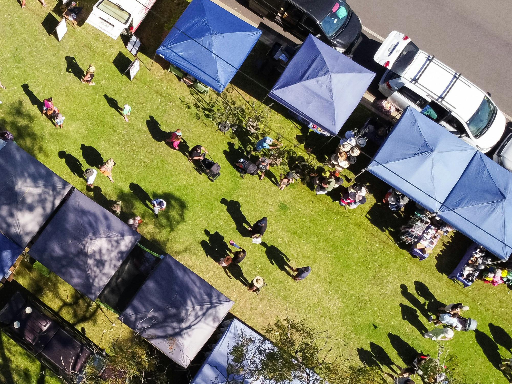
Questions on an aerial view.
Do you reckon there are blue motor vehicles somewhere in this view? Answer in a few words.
No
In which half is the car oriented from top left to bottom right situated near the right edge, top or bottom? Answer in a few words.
top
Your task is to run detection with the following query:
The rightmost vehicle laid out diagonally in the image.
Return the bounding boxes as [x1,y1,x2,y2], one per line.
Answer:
[374,31,508,157]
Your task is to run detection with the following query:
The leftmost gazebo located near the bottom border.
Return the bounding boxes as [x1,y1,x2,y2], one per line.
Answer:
[114,254,234,369]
